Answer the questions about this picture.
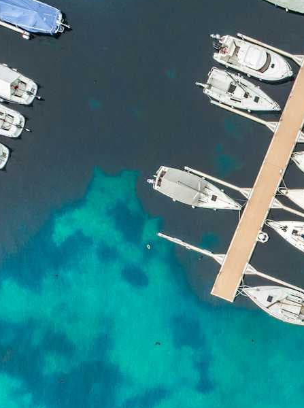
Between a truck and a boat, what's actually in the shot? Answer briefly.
boat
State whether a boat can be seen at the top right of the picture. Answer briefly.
Yes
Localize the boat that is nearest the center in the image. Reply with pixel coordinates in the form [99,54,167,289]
[152,164,240,214]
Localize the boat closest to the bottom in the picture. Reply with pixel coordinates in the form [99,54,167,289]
[237,285,304,325]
